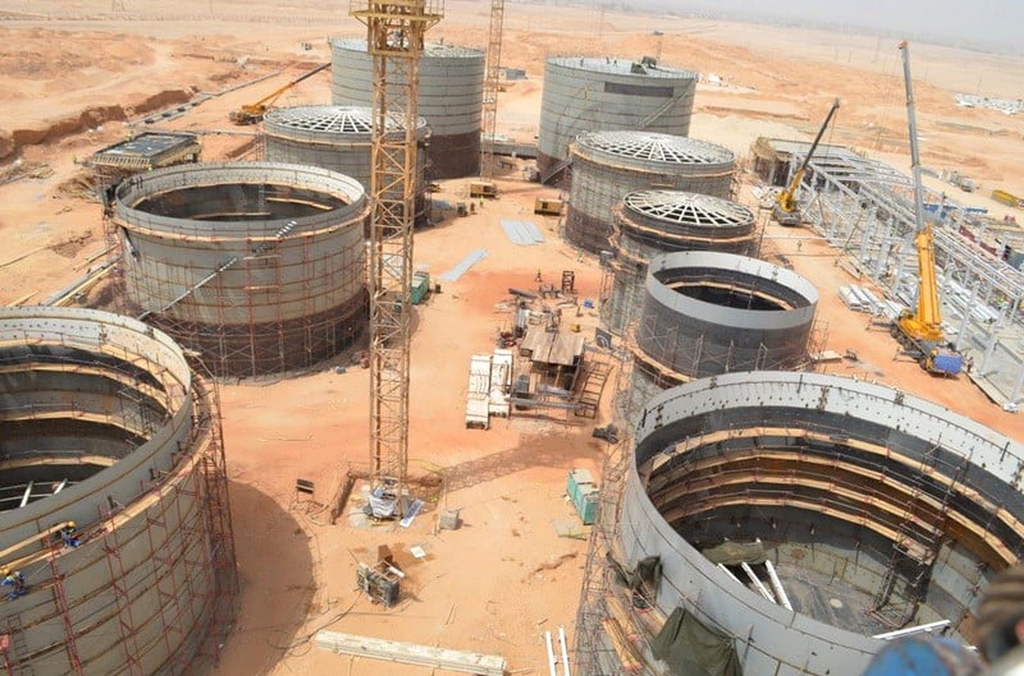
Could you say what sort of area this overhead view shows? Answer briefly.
industrial area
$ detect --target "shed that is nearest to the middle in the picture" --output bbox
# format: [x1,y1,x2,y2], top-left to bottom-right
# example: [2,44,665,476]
[521,328,586,392]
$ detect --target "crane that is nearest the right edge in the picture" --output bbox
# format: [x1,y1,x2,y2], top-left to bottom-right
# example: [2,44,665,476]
[865,41,969,373]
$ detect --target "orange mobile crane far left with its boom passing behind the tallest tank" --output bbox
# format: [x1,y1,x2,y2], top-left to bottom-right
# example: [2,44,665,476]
[222,66,326,123]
